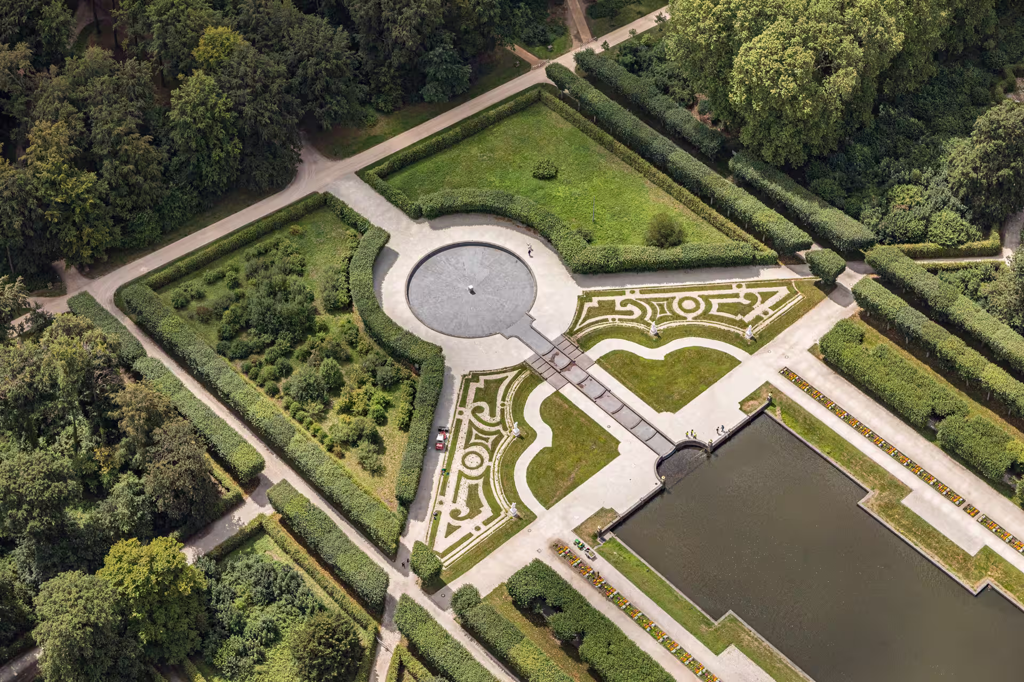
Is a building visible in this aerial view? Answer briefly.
No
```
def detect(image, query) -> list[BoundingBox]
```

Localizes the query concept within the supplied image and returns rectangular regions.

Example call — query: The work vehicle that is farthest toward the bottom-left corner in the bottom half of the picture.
[434,424,447,447]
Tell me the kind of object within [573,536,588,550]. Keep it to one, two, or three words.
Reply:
work vehicle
